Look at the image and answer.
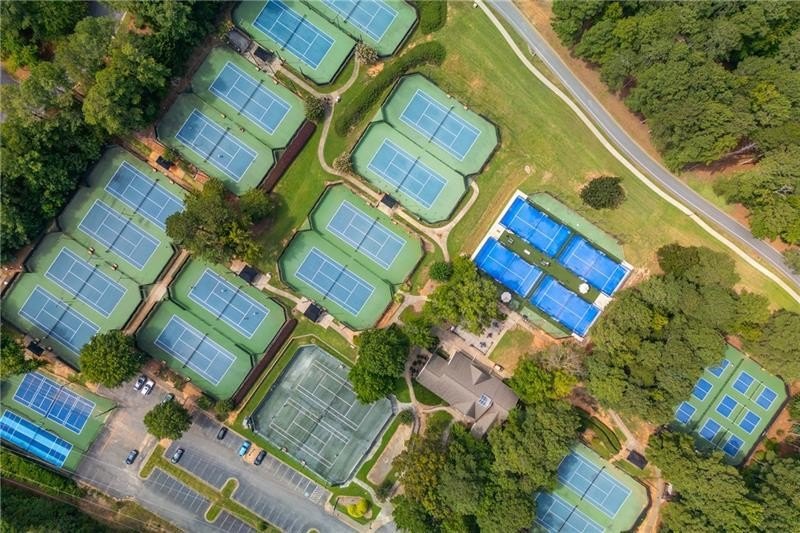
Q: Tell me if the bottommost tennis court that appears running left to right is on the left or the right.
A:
right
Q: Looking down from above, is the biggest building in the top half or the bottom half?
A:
bottom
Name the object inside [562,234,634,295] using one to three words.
sports court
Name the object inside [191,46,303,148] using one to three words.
tennis court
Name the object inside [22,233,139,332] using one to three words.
tennis court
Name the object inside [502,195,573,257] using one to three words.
sports court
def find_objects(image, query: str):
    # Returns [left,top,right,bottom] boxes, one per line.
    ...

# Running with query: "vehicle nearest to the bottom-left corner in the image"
[126,449,139,464]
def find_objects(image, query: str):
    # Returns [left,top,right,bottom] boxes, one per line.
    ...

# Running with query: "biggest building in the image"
[416,346,520,442]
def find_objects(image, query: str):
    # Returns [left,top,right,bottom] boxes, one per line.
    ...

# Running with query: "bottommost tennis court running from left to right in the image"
[520,483,625,533]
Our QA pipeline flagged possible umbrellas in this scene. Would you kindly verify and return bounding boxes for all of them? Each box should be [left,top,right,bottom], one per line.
[579,283,589,293]
[501,292,511,302]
